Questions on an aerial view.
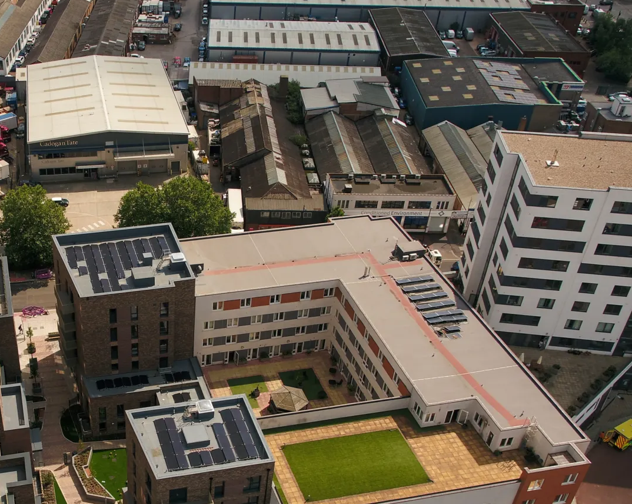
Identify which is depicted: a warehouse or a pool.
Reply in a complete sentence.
The image shows a warehouse.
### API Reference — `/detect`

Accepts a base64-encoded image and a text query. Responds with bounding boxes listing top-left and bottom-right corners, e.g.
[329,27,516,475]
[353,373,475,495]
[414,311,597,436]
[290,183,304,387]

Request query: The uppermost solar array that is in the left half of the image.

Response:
[66,237,168,293]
